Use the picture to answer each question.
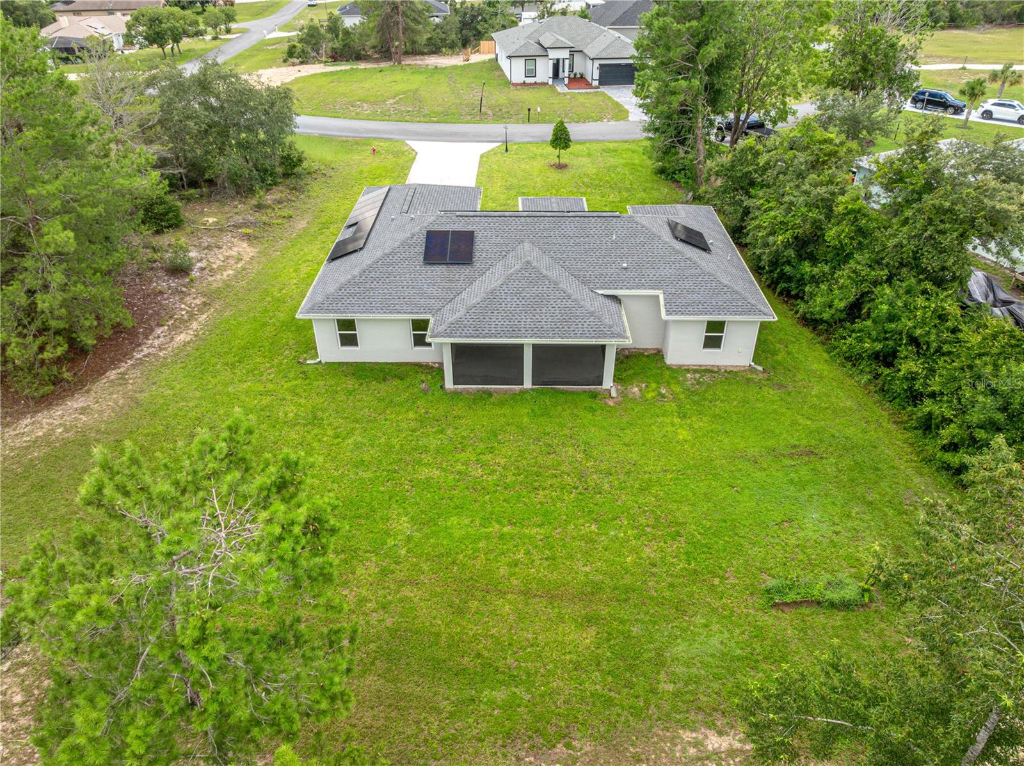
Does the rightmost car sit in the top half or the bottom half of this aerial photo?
top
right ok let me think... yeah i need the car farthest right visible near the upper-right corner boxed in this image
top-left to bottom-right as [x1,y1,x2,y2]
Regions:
[981,99,1024,127]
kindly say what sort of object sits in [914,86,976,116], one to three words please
car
